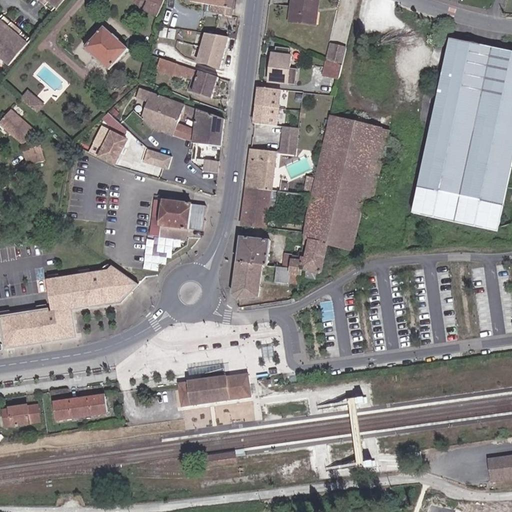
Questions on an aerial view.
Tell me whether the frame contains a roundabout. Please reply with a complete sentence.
Yes, the picture does show a roundabout.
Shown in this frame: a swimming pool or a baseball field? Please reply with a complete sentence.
There is a swimming pool in the scene.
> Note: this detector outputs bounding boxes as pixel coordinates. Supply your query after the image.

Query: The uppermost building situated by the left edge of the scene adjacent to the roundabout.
[0,266,138,348]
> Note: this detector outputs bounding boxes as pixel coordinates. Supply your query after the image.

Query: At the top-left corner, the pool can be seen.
[34,62,70,104]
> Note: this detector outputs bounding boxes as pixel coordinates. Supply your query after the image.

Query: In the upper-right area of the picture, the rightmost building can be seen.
[411,38,512,232]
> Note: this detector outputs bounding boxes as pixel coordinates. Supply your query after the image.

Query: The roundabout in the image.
[160,256,222,322]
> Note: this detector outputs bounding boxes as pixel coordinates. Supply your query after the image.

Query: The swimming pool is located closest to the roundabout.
[274,150,313,188]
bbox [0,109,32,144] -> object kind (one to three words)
house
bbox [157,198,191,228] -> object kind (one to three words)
building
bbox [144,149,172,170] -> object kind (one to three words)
house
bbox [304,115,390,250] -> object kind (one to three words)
barn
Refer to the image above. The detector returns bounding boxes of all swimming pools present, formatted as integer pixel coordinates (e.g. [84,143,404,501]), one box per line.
[34,62,70,104]
[274,150,313,188]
